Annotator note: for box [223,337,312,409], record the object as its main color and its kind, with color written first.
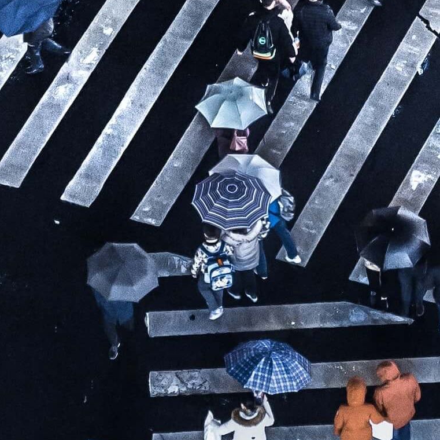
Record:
blue umbrella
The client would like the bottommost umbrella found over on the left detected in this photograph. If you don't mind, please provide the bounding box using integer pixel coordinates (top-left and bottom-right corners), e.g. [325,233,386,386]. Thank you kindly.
[87,242,159,309]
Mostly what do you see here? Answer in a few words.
paved ground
